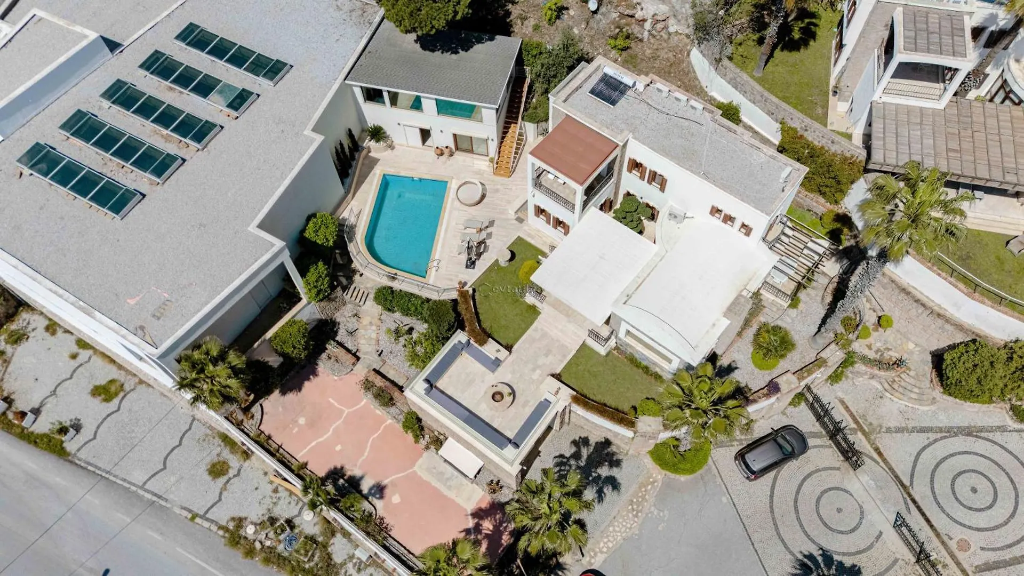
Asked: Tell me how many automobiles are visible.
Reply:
1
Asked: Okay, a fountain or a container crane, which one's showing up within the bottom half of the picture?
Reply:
fountain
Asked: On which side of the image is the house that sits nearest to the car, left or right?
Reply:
right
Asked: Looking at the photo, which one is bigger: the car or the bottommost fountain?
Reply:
the car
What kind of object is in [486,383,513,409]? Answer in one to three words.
fountain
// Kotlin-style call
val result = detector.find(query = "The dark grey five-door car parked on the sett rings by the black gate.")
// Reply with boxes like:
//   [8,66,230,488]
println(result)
[735,430,809,483]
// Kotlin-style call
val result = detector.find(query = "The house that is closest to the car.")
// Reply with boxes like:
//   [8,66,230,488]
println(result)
[527,55,807,391]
